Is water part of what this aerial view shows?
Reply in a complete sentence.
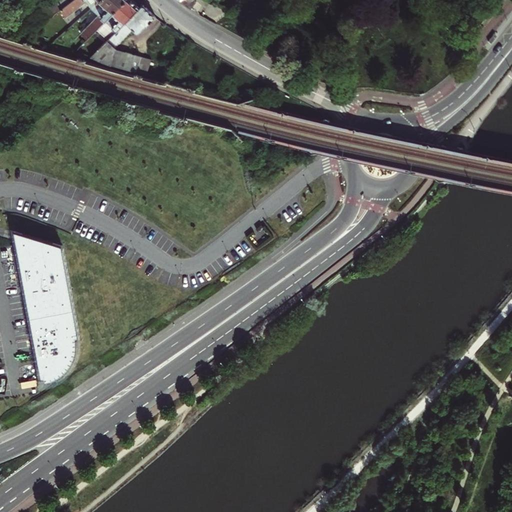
Yes, water shows up in the scene.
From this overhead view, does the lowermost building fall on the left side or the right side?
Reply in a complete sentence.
The lowermost building sits on the left side.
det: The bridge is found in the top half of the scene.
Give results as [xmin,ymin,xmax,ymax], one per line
[0,38,512,194]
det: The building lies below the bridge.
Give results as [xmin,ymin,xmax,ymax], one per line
[8,232,76,385]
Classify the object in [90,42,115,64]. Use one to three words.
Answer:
building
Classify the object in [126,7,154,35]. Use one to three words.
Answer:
building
